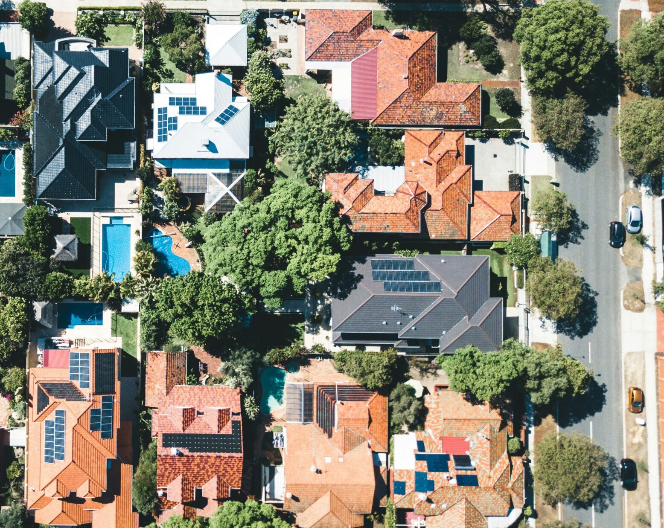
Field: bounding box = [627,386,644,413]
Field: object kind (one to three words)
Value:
car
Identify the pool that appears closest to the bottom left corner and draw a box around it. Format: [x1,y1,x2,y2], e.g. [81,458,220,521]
[56,302,105,331]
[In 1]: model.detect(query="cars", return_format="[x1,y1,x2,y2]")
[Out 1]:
[607,221,625,249]
[618,459,637,490]
[627,386,644,413]
[625,205,643,235]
